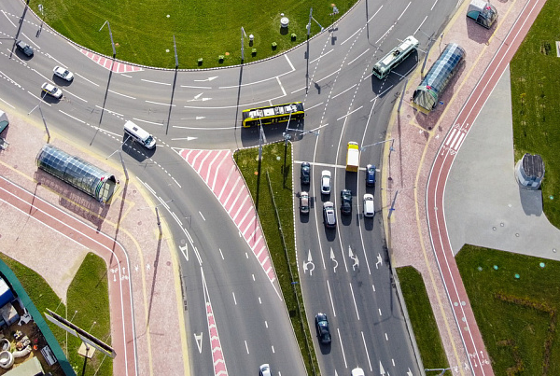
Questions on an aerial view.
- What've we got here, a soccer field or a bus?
bus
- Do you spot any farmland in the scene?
No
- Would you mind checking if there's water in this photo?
No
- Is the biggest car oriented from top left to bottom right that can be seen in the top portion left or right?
left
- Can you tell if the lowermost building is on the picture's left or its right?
left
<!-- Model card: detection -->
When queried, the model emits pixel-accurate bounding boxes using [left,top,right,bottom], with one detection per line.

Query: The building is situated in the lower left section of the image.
[1,303,21,329]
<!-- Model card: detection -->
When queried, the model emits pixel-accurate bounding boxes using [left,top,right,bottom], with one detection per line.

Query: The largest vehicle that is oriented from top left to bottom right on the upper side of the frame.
[123,120,157,149]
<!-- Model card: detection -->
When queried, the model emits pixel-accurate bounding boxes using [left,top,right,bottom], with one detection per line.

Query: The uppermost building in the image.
[468,0,495,27]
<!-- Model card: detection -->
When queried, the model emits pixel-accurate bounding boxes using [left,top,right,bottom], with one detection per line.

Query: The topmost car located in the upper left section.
[14,39,36,57]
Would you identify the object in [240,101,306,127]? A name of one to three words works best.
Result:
bus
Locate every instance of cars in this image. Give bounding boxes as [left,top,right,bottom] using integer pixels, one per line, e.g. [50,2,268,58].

[321,170,332,195]
[300,162,312,185]
[123,120,157,149]
[315,314,331,344]
[366,164,377,186]
[14,39,36,57]
[352,369,364,376]
[324,203,337,228]
[52,66,75,82]
[340,191,352,216]
[299,191,311,216]
[363,195,375,219]
[40,82,64,99]
[259,362,272,376]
